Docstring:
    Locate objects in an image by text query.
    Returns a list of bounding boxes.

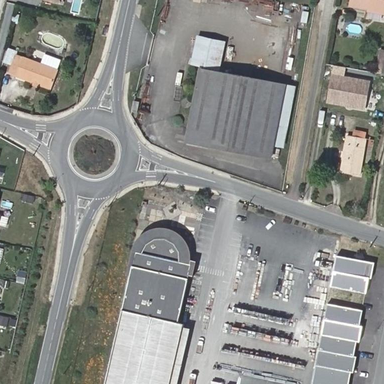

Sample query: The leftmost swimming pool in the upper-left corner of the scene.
[41,32,66,50]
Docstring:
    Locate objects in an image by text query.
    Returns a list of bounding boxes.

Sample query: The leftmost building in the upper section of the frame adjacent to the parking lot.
[184,68,286,158]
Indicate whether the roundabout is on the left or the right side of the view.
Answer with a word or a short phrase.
left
